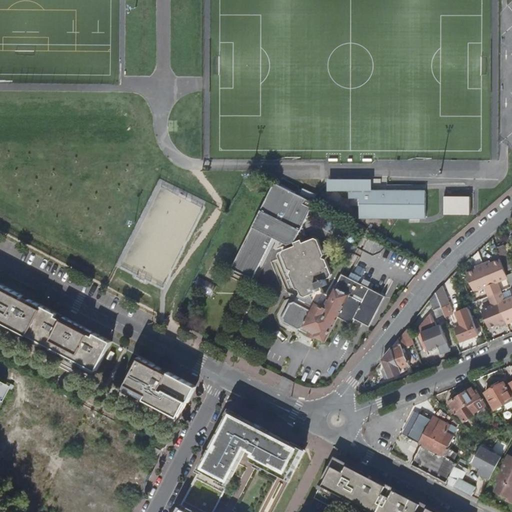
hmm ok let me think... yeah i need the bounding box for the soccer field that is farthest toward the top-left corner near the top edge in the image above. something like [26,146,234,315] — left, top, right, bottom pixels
[0,0,120,84]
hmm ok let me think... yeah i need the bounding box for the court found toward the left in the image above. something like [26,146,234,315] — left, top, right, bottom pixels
[116,179,205,288]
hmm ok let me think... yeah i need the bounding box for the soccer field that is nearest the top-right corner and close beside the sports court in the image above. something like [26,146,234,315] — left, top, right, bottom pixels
[210,0,490,159]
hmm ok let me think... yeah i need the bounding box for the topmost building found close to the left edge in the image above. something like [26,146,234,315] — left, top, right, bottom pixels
[0,280,114,372]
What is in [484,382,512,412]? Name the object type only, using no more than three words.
house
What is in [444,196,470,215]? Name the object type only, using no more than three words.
shed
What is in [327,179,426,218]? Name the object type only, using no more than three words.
building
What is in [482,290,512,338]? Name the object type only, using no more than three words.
house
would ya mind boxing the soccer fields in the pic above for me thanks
[0,0,120,84]
[210,0,490,159]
